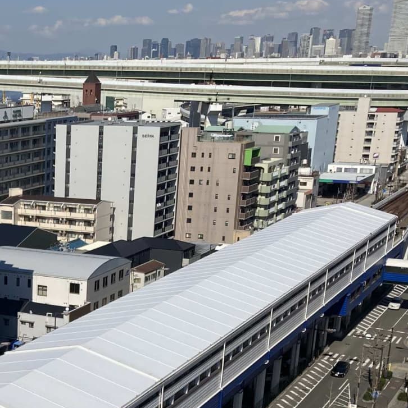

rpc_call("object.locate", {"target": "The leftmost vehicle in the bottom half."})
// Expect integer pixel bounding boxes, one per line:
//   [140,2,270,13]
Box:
[327,359,347,374]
